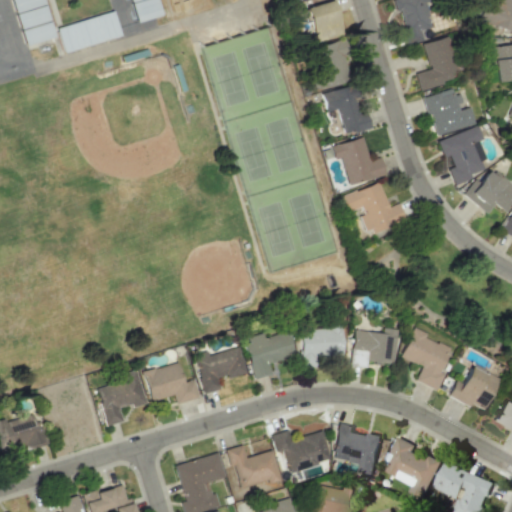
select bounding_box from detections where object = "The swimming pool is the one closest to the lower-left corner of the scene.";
[20,398,35,413]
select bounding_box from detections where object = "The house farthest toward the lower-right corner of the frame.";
[434,466,494,512]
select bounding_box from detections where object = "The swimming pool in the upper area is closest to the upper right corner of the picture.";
[478,134,504,167]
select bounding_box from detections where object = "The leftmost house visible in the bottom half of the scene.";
[0,414,48,452]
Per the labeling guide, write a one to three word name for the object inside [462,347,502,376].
swimming pool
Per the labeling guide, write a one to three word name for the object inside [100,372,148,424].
house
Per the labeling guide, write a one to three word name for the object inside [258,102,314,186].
tennis court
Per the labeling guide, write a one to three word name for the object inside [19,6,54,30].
building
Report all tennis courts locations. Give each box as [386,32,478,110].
[236,28,292,112]
[248,186,302,271]
[258,102,314,186]
[203,38,258,121]
[226,112,280,196]
[281,177,336,260]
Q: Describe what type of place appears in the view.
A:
residential area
